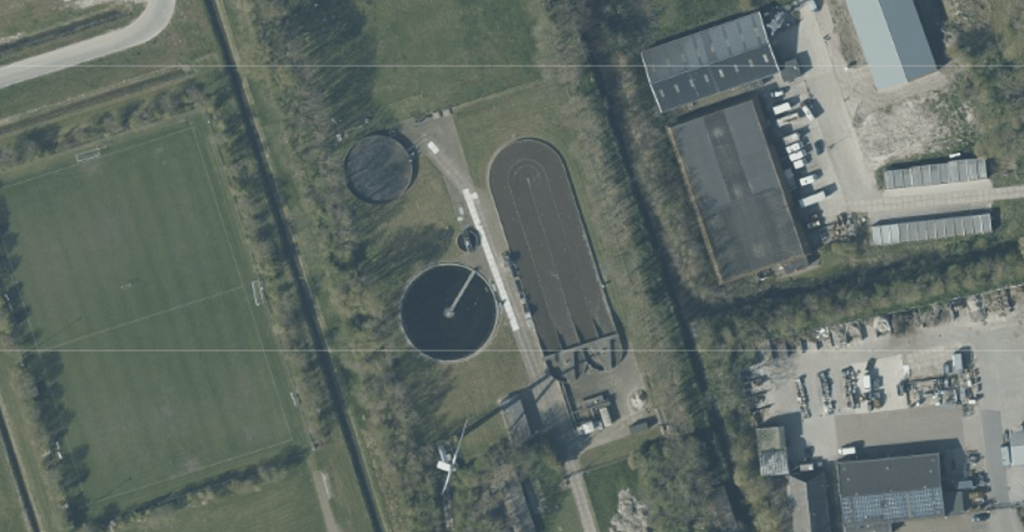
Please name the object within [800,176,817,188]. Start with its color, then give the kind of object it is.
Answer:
white vehicle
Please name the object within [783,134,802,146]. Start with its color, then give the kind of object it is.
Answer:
white vehicle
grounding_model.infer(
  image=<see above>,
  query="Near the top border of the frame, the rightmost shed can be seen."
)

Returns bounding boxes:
[845,0,937,91]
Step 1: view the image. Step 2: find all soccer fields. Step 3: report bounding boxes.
[0,117,300,516]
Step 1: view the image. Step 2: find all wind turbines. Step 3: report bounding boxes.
[434,420,469,497]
